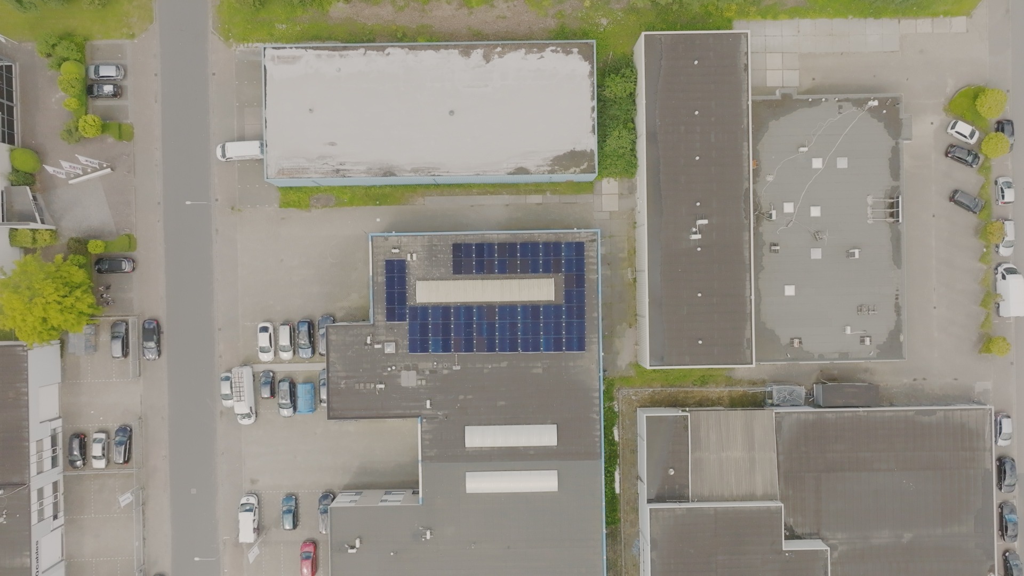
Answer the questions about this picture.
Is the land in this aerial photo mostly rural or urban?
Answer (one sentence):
The area shown here is urban.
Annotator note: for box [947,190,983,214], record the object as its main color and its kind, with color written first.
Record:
gray car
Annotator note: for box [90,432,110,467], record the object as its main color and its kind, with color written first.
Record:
white car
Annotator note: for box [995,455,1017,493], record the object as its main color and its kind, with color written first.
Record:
gray car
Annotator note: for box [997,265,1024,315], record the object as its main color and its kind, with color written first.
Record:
white vehicle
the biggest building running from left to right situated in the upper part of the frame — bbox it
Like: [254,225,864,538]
[262,40,598,187]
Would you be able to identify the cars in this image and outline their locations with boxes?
[112,425,133,464]
[67,433,88,467]
[218,372,231,407]
[141,320,162,359]
[993,412,1013,445]
[88,81,124,99]
[295,320,314,358]
[298,541,317,576]
[89,63,127,82]
[944,144,980,169]
[256,323,275,361]
[109,321,130,359]
[991,118,1014,147]
[994,219,1016,256]
[314,370,326,407]
[277,378,297,416]
[1002,549,1024,576]
[944,120,979,145]
[316,493,335,534]
[947,190,983,214]
[90,432,110,467]
[280,494,299,530]
[276,324,295,359]
[314,317,333,355]
[995,455,1017,493]
[97,256,136,274]
[996,502,1018,543]
[259,371,276,399]
[993,176,1014,206]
